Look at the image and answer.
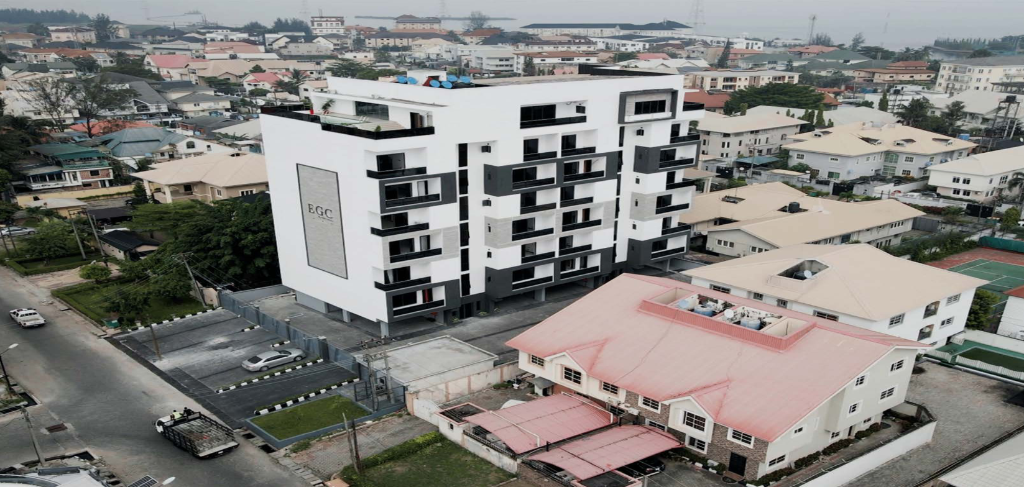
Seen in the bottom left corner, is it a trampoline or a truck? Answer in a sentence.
Looking in the bottom left corner, you will find a truck.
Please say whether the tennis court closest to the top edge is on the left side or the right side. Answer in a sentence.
It is on the right.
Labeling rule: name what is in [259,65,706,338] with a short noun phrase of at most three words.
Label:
building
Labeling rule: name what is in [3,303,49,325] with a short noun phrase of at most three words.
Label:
truck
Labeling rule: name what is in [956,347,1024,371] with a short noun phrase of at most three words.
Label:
sports court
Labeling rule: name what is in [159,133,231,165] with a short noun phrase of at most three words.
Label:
house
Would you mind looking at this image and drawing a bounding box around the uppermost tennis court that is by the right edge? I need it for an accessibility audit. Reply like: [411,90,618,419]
[954,259,1024,313]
